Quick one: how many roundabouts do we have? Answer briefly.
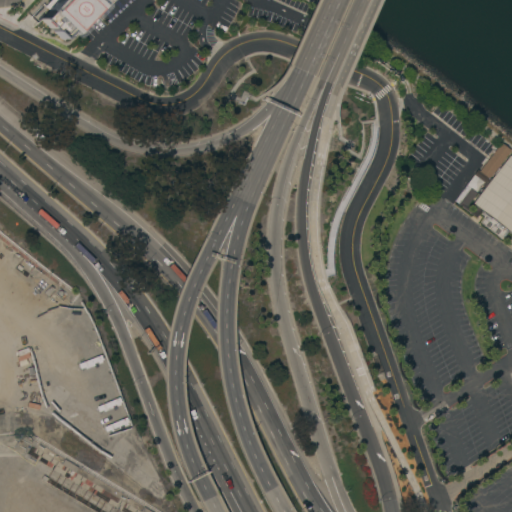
0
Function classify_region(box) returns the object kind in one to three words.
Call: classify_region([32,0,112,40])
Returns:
building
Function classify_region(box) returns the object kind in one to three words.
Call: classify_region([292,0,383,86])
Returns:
bridge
